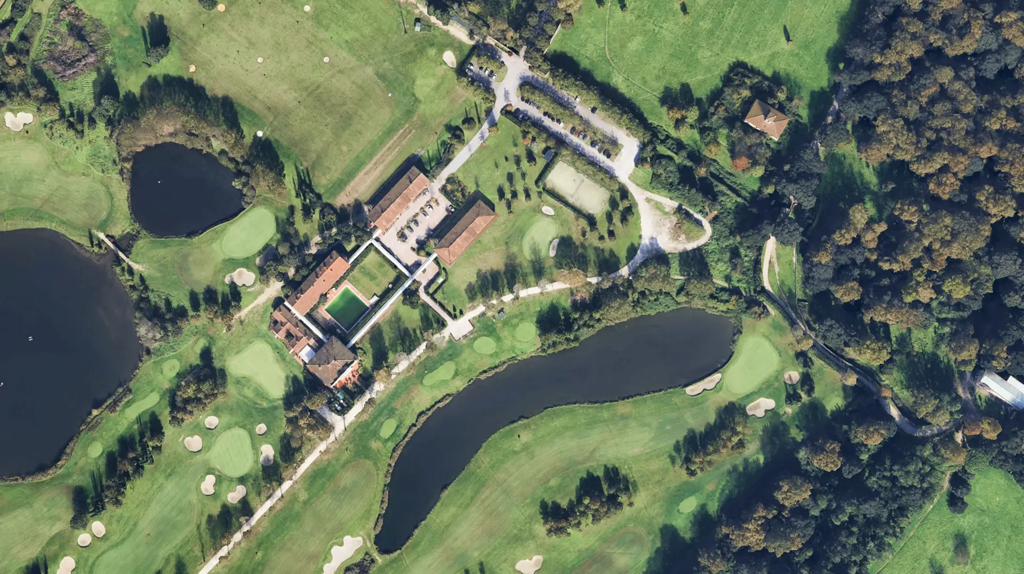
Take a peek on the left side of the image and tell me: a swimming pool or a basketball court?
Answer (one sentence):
You can see a swimming pool on the left side of the image.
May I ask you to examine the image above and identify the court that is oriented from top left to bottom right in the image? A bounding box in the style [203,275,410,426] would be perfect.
[545,161,609,214]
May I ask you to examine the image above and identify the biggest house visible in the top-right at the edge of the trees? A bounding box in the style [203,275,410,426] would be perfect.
[745,99,789,139]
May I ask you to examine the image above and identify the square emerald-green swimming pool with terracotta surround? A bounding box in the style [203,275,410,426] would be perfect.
[319,280,373,334]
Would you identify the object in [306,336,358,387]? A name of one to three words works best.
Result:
building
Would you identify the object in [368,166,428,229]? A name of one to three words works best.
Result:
barn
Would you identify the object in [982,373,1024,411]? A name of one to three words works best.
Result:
shed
